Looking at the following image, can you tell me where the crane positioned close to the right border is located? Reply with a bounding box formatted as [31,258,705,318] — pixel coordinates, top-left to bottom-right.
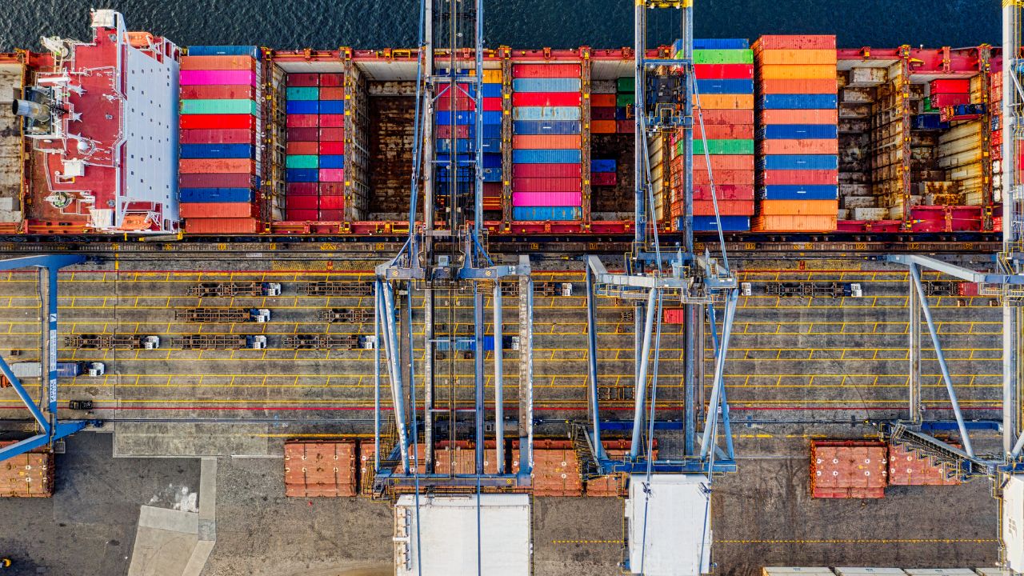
[863,0,1024,573]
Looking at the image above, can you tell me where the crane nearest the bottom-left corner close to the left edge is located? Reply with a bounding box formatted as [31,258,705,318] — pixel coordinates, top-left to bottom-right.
[0,254,105,464]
